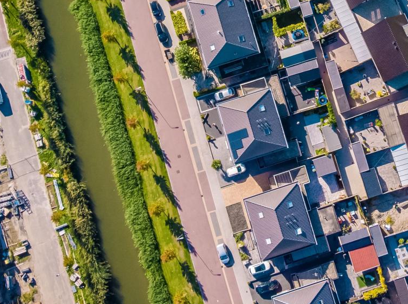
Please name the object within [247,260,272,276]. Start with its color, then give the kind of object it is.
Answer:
white car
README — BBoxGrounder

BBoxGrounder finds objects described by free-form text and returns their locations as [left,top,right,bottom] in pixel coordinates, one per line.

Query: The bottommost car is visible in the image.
[255,279,280,295]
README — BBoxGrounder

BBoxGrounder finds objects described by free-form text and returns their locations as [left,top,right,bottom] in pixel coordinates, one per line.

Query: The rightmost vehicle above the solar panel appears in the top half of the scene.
[214,88,236,101]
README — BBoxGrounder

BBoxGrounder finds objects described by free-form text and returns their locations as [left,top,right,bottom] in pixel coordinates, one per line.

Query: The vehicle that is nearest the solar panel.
[225,163,247,177]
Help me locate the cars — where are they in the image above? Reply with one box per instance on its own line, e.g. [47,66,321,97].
[255,279,280,295]
[247,260,272,276]
[214,88,236,101]
[225,163,247,177]
[148,0,164,20]
[215,241,232,266]
[153,20,169,44]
